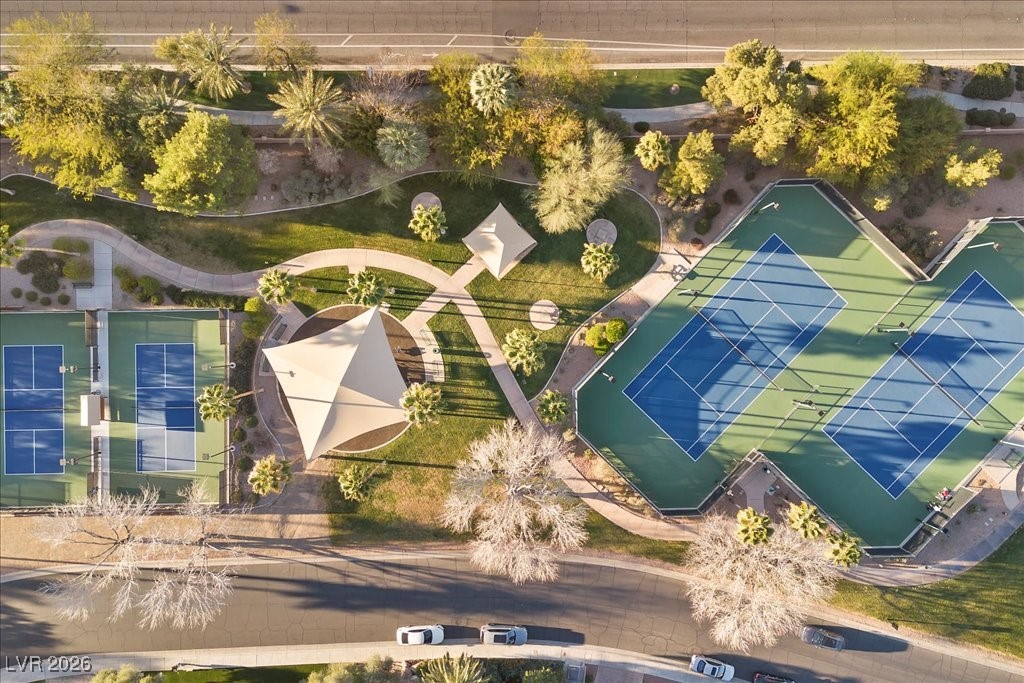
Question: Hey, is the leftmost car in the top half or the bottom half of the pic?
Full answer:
Seen from above, the leftmost car lies in the bottom half of the view.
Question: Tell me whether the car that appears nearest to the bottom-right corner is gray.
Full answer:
Yes, the car that appears nearest to the bottom-right corner is indeed gray.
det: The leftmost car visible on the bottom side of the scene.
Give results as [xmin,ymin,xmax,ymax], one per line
[398,625,442,649]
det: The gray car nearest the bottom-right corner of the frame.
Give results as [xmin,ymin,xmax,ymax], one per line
[801,624,846,652]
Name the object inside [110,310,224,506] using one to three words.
sports court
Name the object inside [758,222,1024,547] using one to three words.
tennis court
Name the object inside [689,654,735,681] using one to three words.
car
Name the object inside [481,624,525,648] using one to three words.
car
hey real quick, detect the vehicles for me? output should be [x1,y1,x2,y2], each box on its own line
[689,654,735,681]
[801,624,846,652]
[398,625,442,649]
[754,669,800,683]
[481,624,525,648]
